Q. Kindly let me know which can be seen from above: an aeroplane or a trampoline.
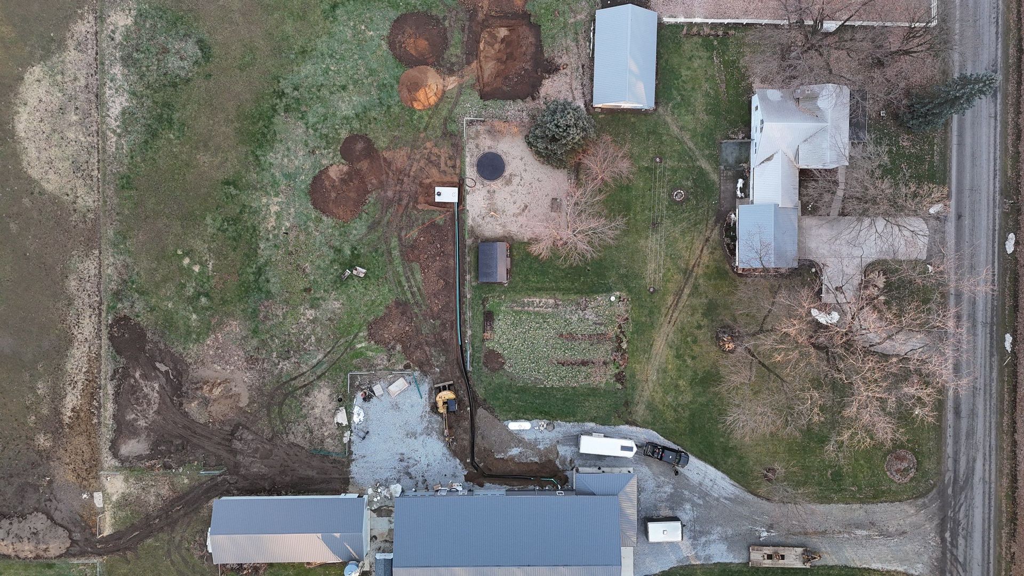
trampoline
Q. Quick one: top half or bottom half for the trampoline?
top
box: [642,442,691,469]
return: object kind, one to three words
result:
truck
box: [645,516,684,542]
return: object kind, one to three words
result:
trailer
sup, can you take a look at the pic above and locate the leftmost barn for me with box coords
[209,495,369,564]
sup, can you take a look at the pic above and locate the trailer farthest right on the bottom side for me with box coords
[748,545,819,568]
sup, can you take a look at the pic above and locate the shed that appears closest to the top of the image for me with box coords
[593,4,657,110]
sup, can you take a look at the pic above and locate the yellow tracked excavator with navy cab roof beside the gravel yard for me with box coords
[434,380,457,446]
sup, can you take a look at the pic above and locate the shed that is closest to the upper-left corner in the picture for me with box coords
[478,242,512,283]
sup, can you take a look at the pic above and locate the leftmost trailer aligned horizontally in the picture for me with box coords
[576,429,640,457]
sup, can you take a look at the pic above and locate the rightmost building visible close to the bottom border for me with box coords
[393,470,638,576]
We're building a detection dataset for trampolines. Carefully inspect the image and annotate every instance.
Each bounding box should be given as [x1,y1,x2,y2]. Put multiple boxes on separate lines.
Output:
[474,150,507,183]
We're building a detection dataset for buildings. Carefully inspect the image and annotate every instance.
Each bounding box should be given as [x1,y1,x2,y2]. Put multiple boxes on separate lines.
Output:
[593,4,657,110]
[393,470,638,576]
[209,495,369,564]
[736,84,849,268]
[478,242,512,283]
